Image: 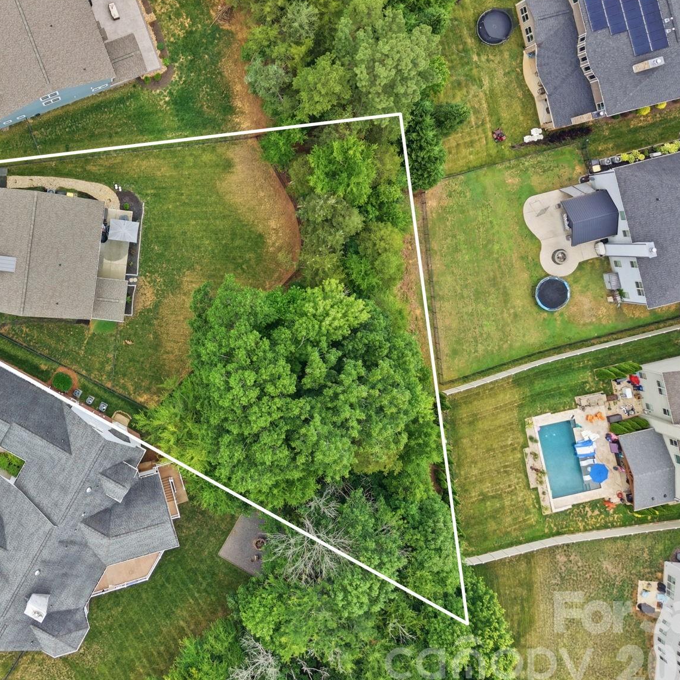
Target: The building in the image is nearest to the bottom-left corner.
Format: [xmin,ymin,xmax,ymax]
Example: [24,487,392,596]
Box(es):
[0,361,190,658]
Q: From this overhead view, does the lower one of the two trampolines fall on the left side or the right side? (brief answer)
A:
right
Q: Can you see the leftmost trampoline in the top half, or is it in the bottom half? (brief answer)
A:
top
